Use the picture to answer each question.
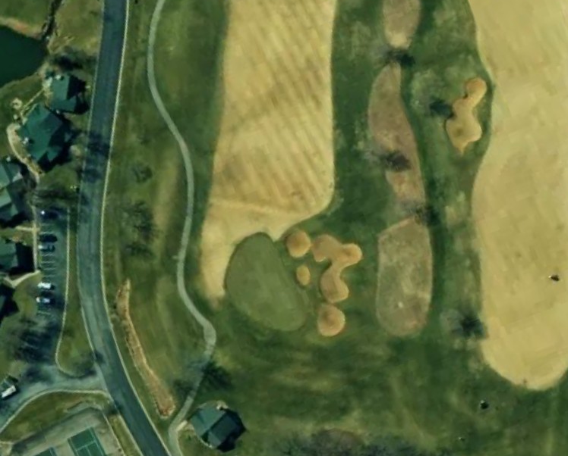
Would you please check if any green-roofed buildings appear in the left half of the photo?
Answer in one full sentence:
Yes, in the left half of the photo there is a green-roofed building.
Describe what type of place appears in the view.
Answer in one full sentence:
The picture captures a golf course.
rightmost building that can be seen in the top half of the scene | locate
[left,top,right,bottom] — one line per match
[45,75,87,114]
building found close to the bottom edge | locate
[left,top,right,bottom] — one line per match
[185,404,237,456]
